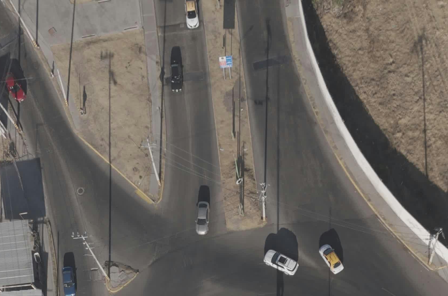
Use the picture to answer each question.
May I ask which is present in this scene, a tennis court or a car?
car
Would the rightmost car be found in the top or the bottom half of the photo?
bottom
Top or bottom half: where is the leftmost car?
top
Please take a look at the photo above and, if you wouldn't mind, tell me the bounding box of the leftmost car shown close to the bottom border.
[61,266,78,296]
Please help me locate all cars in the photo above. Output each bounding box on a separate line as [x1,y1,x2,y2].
[169,60,184,94]
[263,251,299,276]
[5,70,26,104]
[321,244,344,275]
[61,266,78,296]
[184,0,200,32]
[194,200,210,236]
